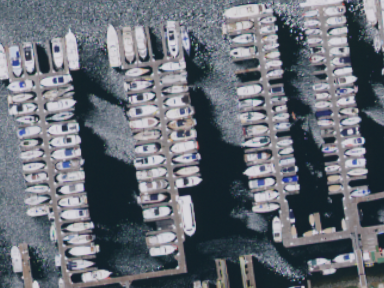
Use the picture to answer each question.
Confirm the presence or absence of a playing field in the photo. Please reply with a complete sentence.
No, there appears to be no playing field in this shot.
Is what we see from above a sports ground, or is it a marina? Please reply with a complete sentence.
The area seen from above is a marina.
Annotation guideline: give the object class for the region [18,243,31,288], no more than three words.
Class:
pier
